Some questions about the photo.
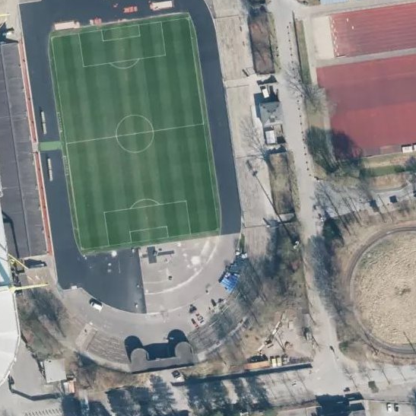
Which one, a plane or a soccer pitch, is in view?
soccer pitch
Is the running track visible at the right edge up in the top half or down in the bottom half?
top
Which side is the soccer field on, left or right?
left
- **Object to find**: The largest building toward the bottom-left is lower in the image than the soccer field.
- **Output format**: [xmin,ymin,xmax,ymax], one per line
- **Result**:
[42,358,67,383]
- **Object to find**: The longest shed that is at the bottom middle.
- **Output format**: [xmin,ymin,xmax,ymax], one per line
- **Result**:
[184,364,313,386]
